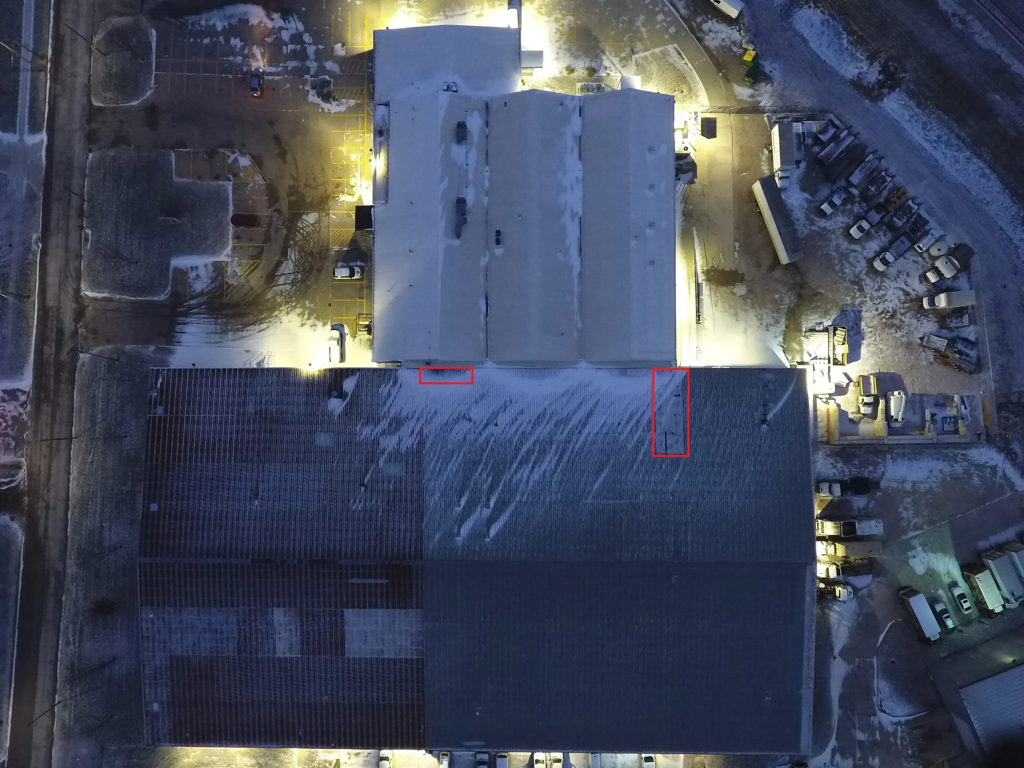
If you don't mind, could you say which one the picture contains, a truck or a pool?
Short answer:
truck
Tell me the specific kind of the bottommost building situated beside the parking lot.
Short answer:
warehouse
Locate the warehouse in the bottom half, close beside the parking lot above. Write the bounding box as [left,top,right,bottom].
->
[137,366,817,757]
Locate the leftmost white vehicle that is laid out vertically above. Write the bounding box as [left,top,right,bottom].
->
[329,329,343,363]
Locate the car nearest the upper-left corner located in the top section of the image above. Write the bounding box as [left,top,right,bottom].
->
[248,69,263,99]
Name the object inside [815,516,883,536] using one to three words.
vehicle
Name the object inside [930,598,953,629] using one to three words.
car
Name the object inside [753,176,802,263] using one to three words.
trailer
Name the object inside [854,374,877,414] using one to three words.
truck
